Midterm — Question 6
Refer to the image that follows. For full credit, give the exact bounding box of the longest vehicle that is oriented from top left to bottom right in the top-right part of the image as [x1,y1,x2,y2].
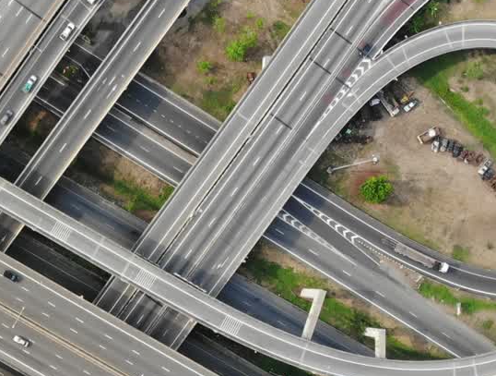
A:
[377,88,404,115]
